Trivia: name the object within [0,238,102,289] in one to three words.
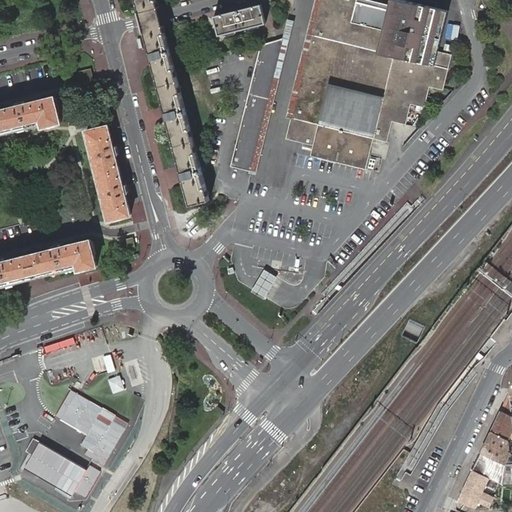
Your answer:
building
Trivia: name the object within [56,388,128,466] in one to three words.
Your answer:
building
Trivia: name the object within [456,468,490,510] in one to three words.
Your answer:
house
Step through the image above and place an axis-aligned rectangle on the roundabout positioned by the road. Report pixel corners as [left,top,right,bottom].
[137,248,214,325]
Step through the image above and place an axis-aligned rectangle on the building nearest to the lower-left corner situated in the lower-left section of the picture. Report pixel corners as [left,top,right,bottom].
[21,437,102,498]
